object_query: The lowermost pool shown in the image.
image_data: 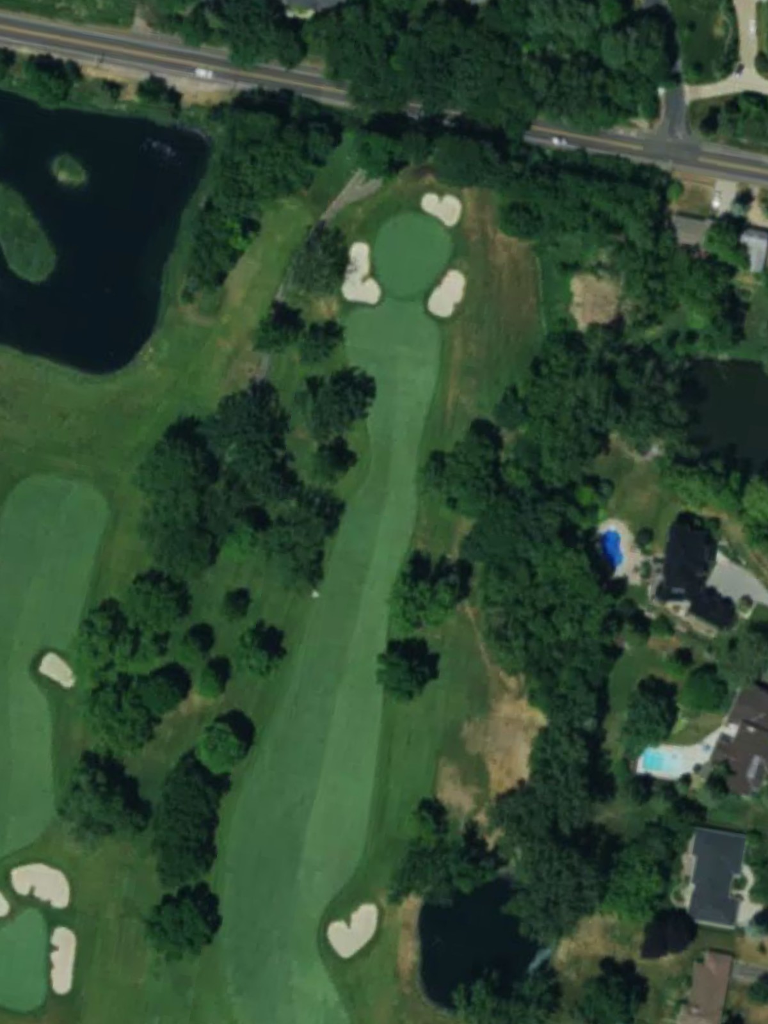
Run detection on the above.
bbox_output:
[642,747,683,773]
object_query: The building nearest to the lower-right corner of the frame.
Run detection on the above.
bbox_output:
[679,951,732,1024]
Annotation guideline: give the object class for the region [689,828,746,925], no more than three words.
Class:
house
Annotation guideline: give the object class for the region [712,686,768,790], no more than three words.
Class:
house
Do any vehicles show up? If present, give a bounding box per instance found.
[734,61,744,77]
[311,590,318,599]
[550,137,567,146]
[195,69,213,79]
[748,18,757,34]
